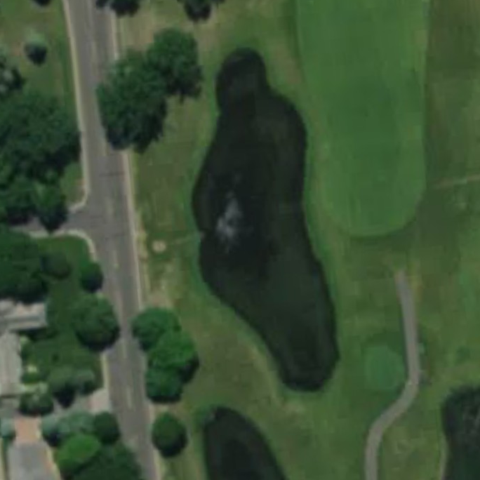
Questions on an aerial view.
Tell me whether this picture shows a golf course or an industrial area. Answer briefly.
golf course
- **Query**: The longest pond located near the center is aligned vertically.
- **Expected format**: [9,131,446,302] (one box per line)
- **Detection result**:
[193,48,339,390]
